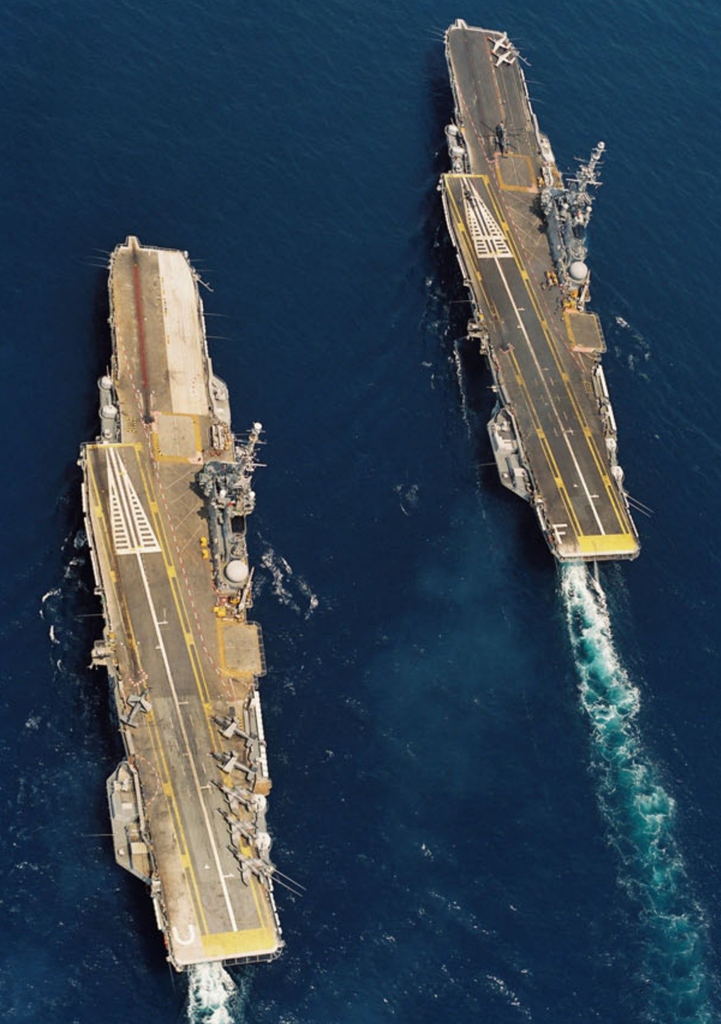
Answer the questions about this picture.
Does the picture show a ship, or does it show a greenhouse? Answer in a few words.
ship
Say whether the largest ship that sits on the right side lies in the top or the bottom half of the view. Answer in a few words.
top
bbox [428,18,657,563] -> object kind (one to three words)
ship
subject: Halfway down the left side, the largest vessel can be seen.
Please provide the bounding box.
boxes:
[76,235,307,973]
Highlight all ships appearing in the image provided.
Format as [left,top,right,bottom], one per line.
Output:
[76,235,307,973]
[428,18,657,563]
